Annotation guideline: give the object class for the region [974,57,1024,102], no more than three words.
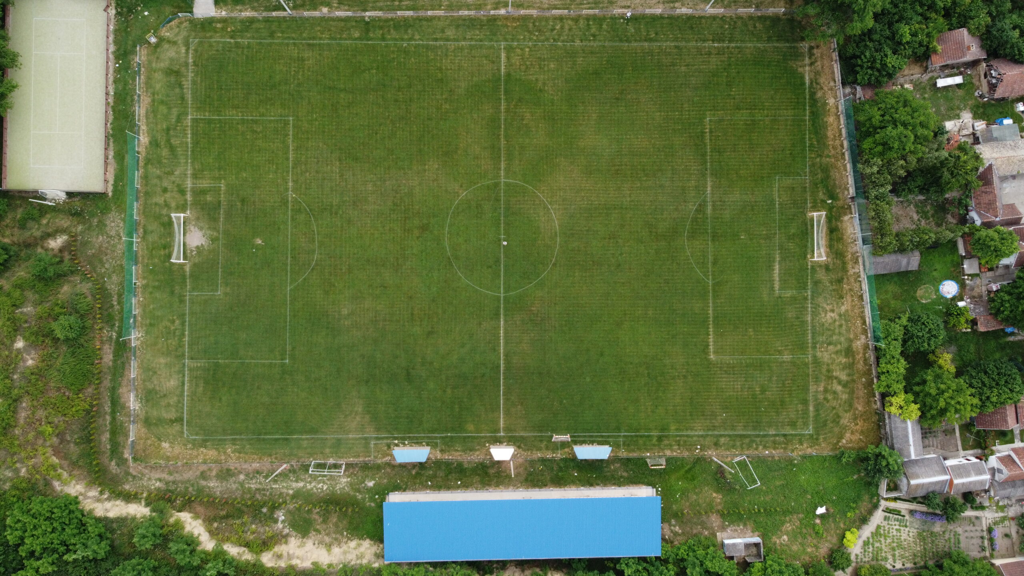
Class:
house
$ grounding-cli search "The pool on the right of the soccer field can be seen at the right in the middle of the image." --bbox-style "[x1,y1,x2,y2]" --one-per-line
[939,279,962,299]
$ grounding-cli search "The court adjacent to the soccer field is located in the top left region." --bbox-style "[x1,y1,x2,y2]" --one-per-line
[6,0,109,193]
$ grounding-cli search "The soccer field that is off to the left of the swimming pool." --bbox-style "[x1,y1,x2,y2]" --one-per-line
[133,13,881,465]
